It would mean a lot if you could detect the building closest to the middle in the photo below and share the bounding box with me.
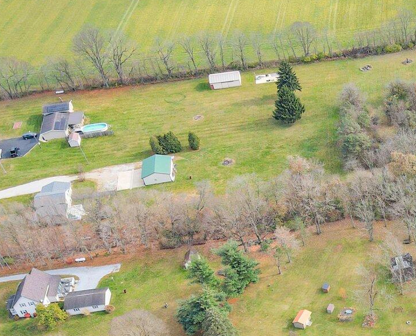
[142,151,174,186]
